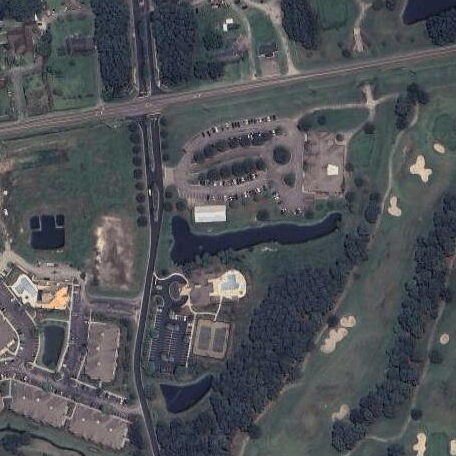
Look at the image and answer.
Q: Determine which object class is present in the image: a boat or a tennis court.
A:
tennis court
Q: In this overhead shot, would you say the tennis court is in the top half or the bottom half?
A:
bottom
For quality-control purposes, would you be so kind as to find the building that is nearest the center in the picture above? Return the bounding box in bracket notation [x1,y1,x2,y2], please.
[194,205,226,222]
